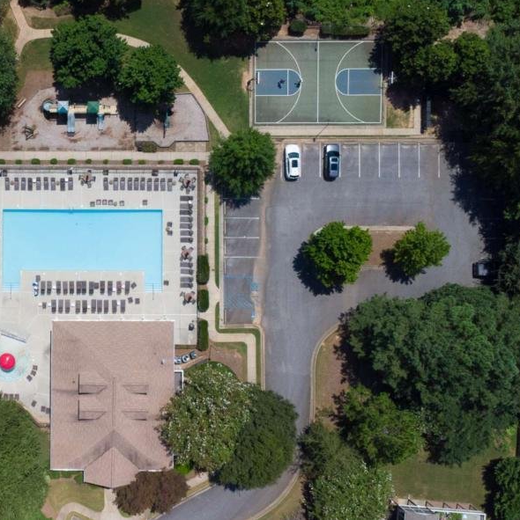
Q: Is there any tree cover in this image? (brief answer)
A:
Yes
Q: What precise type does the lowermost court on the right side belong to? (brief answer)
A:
basketball court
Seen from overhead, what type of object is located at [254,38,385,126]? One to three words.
basketball court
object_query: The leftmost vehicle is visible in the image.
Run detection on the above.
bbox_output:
[284,144,301,181]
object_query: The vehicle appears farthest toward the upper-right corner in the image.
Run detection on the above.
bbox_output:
[323,143,340,178]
